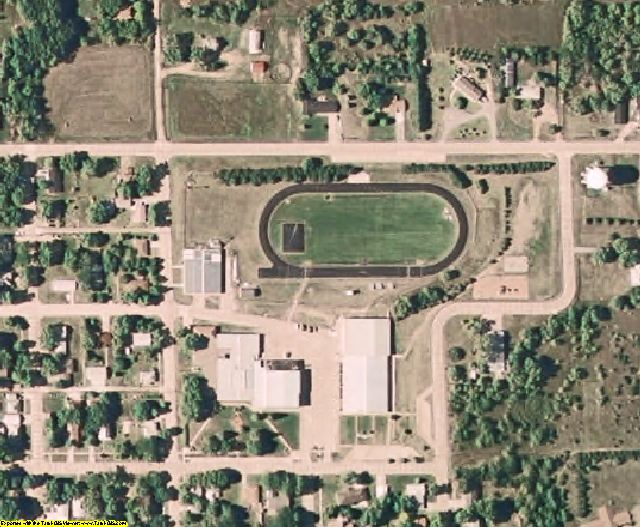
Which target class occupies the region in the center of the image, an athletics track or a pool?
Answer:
athletics track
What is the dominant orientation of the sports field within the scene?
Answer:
from left to right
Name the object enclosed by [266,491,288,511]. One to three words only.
house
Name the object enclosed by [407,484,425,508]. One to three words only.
house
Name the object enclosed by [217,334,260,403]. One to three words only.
building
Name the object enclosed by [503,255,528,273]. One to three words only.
basketball court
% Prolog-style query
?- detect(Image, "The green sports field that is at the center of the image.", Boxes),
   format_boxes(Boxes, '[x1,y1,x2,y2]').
[269,193,458,268]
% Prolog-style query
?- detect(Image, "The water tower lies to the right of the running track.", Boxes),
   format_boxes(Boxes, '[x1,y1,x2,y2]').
[579,164,608,193]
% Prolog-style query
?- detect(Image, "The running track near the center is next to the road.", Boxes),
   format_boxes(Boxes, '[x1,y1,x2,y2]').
[258,182,469,278]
